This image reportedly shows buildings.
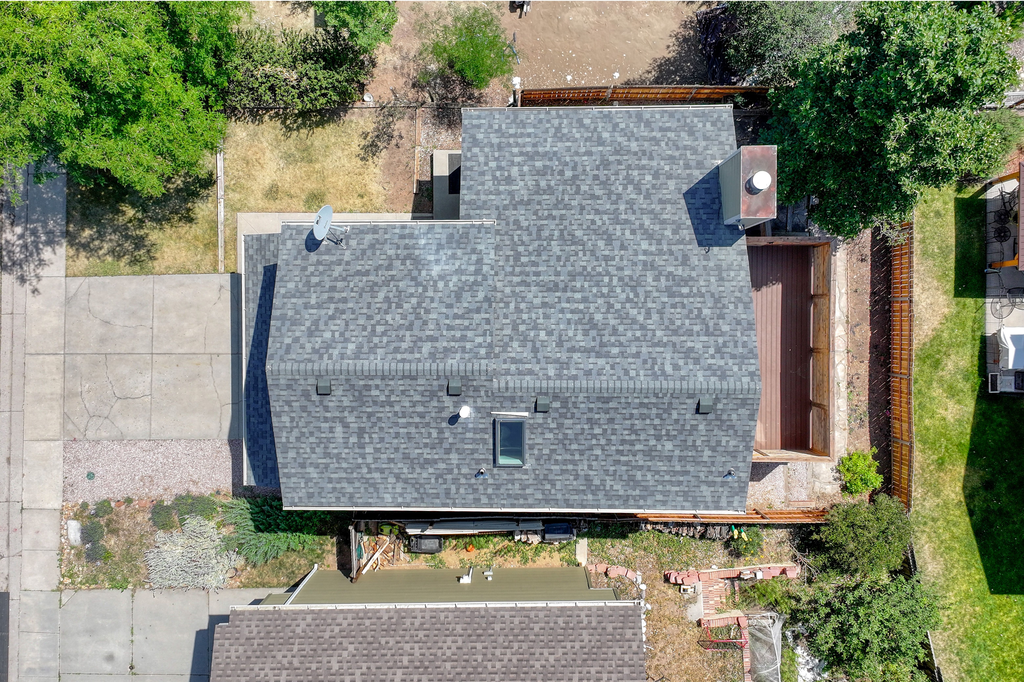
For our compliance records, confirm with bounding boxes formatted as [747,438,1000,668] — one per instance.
[241,103,777,515]
[202,564,646,682]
